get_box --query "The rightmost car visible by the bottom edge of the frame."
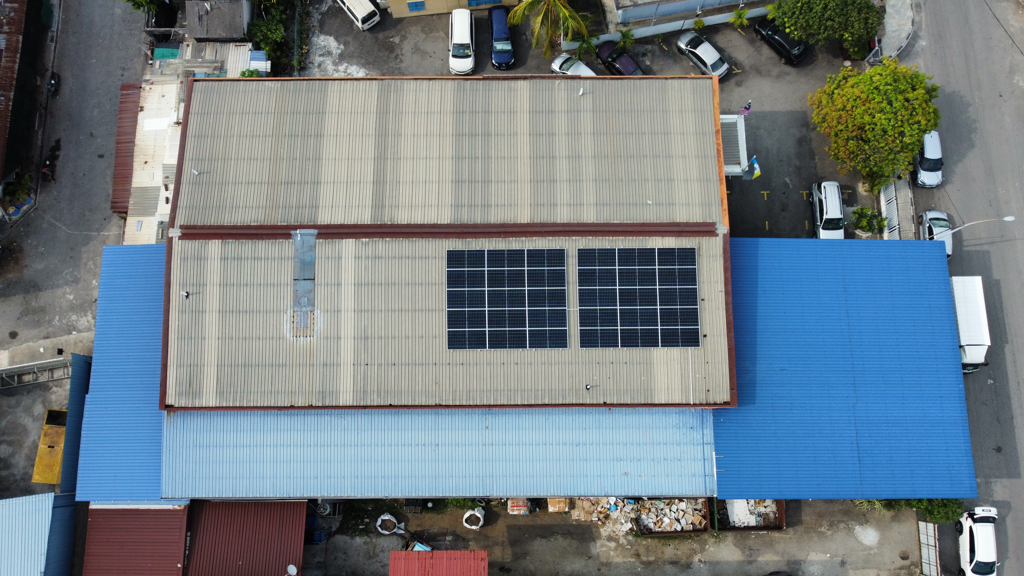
[954,504,1000,576]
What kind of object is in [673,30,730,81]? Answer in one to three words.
car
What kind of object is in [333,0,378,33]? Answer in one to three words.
van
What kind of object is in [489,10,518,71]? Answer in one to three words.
car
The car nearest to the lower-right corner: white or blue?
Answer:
white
